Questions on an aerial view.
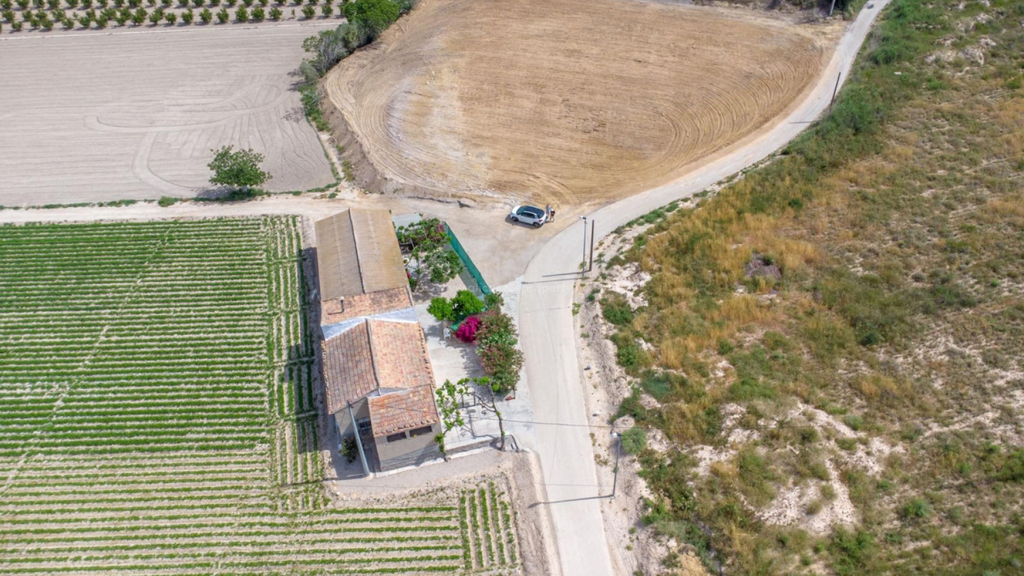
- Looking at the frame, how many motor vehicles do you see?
1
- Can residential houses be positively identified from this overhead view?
Yes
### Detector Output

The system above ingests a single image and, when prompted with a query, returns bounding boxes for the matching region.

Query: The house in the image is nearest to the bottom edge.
[319,282,445,479]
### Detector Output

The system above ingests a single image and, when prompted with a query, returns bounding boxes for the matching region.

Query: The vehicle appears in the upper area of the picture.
[508,210,545,231]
